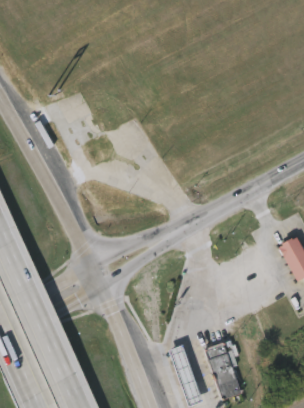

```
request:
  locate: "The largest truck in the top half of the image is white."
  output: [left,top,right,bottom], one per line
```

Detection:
[29,114,51,148]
